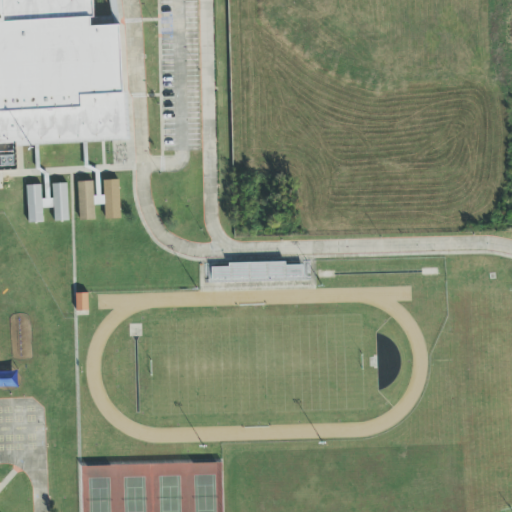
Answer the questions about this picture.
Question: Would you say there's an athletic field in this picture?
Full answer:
Yes, an athletic field can be made out from above.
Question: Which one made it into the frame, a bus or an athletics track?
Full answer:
Visible in the photo is an athletics track.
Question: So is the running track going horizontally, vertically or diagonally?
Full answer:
The running track is oriented horizontally.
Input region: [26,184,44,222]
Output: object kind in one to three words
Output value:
building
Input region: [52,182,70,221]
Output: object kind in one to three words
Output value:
building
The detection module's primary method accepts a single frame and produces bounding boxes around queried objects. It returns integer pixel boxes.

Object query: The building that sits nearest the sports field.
[76,292,89,316]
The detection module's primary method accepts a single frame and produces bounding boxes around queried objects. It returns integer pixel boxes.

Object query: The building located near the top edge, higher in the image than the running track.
[0,0,126,147]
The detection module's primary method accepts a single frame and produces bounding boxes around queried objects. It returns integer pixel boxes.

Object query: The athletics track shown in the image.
[86,286,428,443]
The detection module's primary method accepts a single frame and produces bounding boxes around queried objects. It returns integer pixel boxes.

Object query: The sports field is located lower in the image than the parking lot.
[150,314,364,416]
